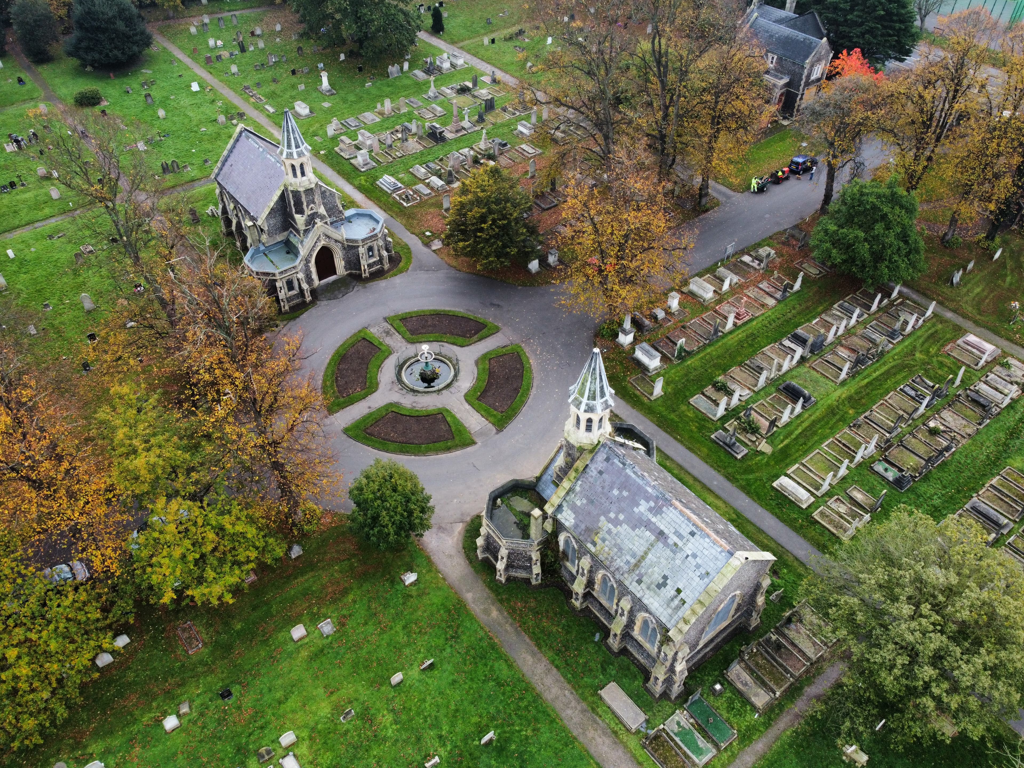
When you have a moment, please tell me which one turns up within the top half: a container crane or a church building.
church building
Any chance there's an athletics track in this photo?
No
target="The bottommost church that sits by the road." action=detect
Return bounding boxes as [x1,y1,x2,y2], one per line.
[483,347,772,694]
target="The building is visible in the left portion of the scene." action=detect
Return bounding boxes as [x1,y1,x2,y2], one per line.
[211,107,391,310]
